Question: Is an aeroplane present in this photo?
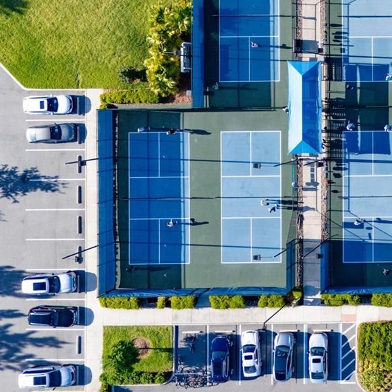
No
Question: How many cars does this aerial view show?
9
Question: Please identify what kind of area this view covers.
sports ground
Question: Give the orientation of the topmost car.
from side to side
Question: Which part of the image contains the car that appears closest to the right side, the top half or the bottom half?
bottom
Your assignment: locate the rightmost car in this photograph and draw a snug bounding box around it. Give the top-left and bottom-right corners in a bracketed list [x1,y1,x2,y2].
[305,332,329,384]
